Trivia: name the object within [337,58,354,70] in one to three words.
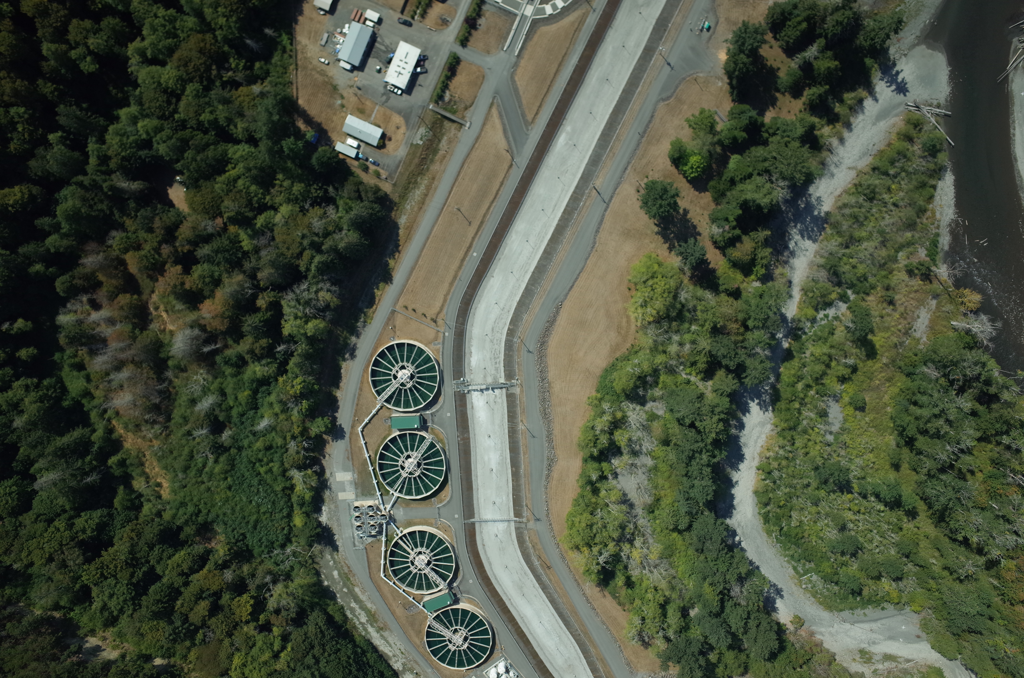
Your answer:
vehicle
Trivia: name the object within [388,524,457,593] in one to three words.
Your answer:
storage tank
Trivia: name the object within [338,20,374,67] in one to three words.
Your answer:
shed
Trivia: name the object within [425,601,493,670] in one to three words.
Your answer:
storage tank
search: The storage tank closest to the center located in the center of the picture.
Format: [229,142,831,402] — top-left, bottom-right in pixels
[370,338,442,410]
